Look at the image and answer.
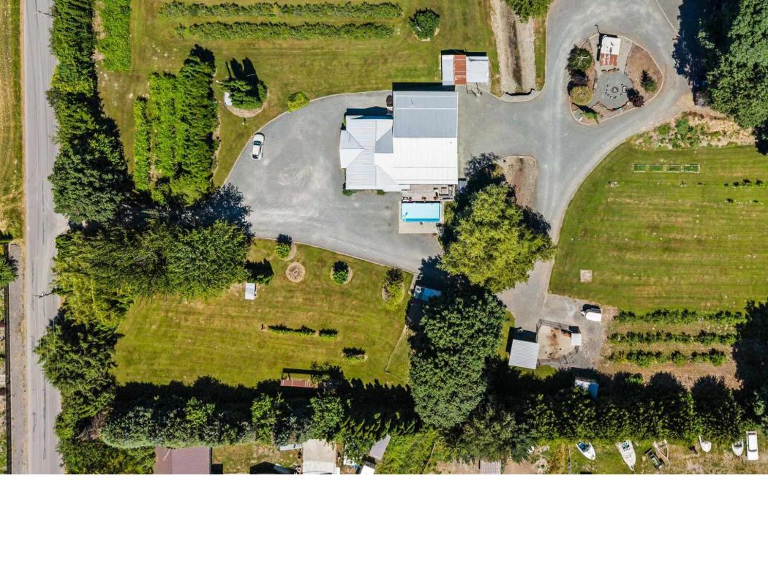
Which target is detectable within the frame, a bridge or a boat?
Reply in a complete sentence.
I can see a boat in this picture.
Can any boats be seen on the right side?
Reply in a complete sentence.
Yes, you'll find a boat on the right side.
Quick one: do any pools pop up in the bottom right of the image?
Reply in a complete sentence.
No, there is no pool in the bottom right of the image.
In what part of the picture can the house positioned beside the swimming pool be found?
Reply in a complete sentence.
The house positioned beside the swimming pool is located in the top region of the scene.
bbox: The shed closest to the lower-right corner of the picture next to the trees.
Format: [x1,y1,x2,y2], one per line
[574,377,599,397]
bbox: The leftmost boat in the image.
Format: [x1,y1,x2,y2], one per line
[575,445,593,463]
